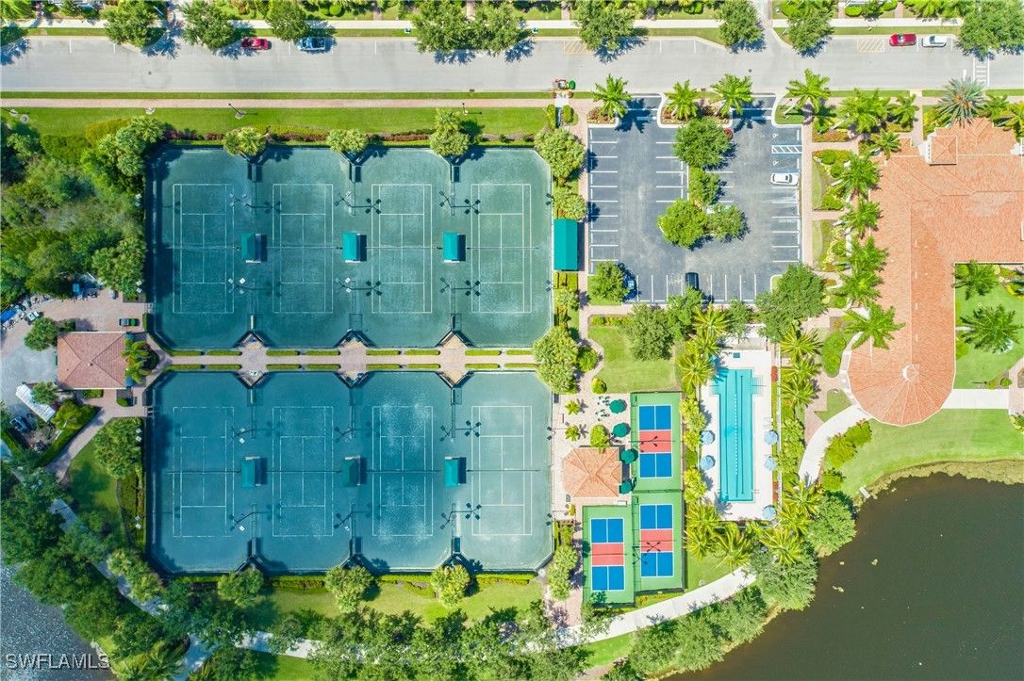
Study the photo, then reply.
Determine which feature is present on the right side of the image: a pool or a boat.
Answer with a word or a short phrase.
pool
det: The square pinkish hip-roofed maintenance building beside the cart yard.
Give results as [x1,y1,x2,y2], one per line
[57,331,132,389]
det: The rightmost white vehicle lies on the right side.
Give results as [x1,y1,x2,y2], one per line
[921,34,946,48]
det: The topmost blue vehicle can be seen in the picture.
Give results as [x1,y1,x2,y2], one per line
[298,37,327,51]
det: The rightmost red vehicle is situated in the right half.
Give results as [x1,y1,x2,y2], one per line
[888,34,916,47]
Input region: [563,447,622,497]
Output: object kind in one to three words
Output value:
building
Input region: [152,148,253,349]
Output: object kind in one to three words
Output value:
tennis court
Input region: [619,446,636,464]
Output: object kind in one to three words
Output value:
umbrella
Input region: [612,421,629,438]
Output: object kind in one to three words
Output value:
umbrella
